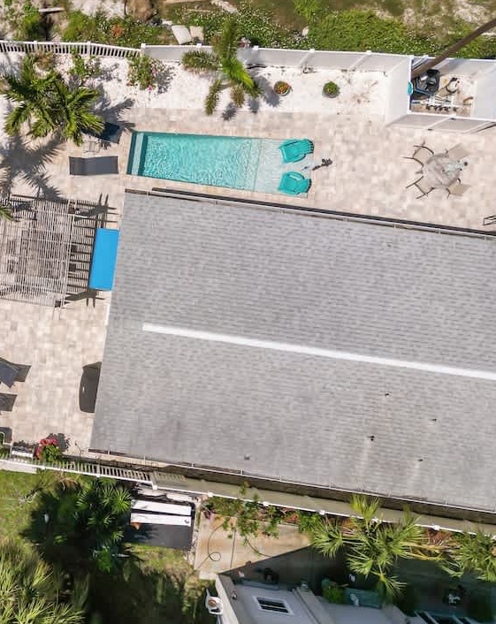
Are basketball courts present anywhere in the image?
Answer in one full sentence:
No, no basketball court is visible in the scene.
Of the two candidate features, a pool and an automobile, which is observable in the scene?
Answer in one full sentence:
Visible in the photo is a pool.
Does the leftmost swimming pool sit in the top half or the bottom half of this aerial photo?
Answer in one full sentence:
Seen from above, the leftmost swimming pool lies in the top half of the view.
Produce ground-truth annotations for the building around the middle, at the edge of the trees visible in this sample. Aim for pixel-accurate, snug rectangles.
[89,187,496,515]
